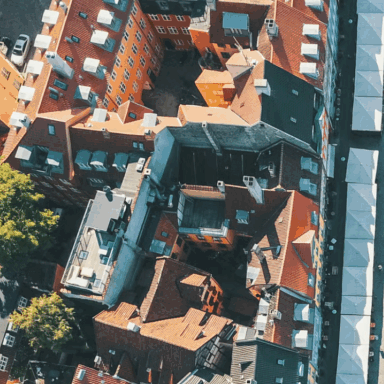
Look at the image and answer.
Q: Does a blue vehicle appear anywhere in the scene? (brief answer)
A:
No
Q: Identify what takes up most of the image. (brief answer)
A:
buildings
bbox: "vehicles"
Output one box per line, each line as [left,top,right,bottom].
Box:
[0,32,15,58]
[7,33,33,67]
